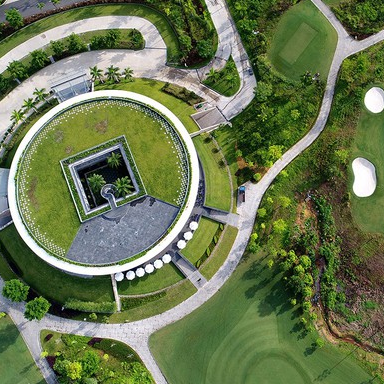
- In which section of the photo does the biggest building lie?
left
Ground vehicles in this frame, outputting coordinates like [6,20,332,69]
[248,69,254,77]
[239,185,246,201]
